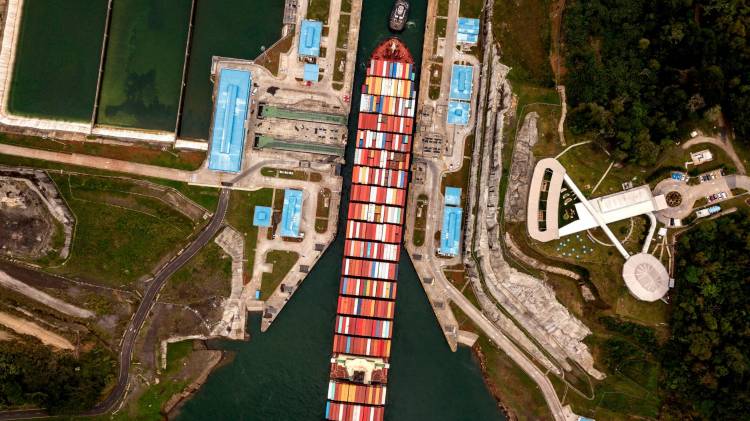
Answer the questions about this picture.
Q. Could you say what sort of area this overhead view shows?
port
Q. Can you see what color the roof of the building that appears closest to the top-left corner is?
blue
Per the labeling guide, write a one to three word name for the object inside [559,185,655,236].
building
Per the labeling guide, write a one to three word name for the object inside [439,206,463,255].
building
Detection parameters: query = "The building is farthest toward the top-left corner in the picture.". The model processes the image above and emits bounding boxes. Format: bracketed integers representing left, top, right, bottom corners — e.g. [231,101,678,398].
[208,69,253,173]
